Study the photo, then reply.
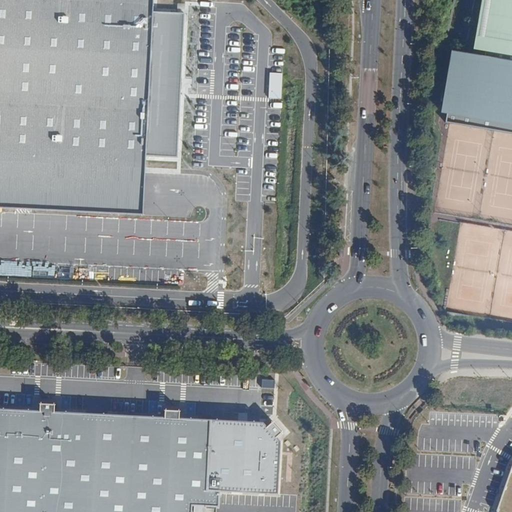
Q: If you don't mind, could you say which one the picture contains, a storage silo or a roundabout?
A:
roundabout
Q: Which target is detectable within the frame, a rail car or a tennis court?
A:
tennis court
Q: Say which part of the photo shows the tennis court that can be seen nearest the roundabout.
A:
right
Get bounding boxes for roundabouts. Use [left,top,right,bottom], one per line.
[303,276,443,414]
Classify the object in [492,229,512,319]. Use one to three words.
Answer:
tennis court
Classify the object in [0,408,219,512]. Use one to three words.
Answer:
building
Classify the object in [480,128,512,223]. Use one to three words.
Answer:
tennis court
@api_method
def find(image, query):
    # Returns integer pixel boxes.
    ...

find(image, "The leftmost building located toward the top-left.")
[0,0,154,214]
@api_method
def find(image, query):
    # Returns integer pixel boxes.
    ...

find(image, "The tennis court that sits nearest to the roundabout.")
[446,222,504,315]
